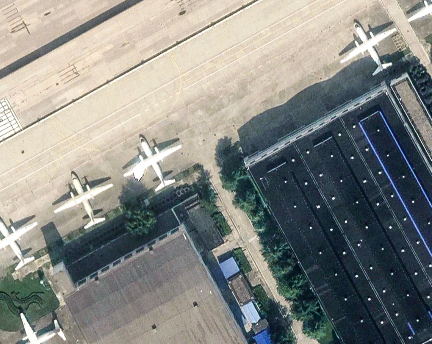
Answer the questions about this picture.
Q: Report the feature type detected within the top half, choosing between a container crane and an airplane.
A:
airplane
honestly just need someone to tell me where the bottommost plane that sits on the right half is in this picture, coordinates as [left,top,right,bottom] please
[339,21,395,71]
